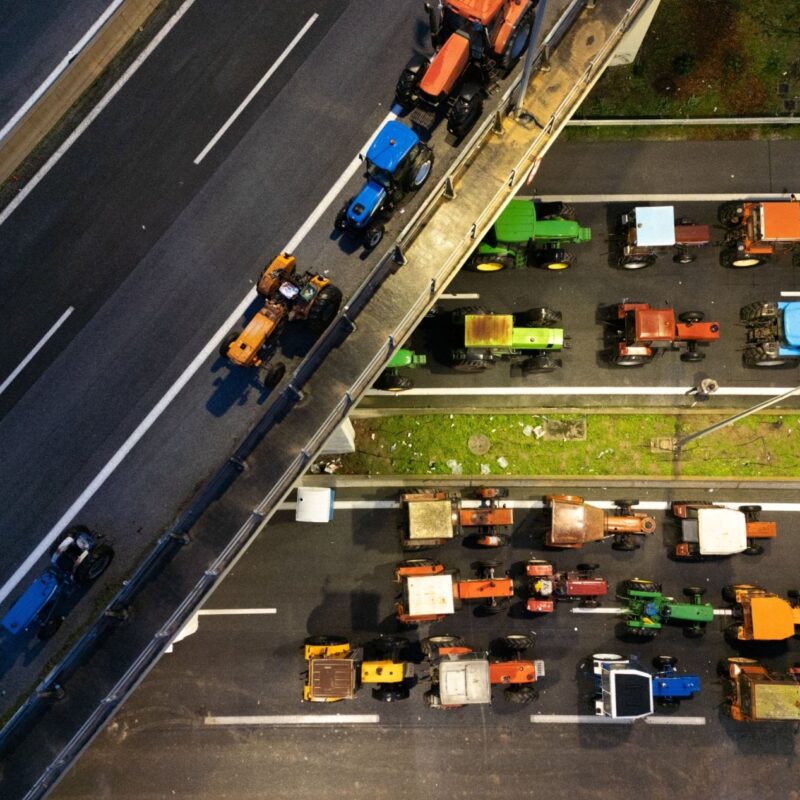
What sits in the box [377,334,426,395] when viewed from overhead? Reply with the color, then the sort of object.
green work vehicle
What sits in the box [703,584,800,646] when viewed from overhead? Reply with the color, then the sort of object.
orange work vehicle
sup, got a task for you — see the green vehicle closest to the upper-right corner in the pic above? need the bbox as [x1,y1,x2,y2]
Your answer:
[466,194,589,280]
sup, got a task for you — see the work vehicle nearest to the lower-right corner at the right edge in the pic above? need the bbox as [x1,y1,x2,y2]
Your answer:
[704,654,800,728]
